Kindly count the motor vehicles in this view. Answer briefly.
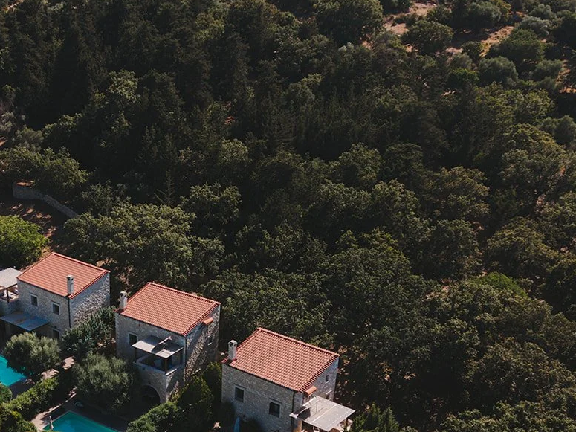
zero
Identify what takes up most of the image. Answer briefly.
trees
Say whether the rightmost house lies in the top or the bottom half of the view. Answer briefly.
bottom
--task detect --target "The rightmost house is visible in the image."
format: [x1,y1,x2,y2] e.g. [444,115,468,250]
[216,325,345,432]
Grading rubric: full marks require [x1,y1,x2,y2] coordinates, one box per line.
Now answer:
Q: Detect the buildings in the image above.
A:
[111,280,225,403]
[216,325,345,432]
[0,249,113,366]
